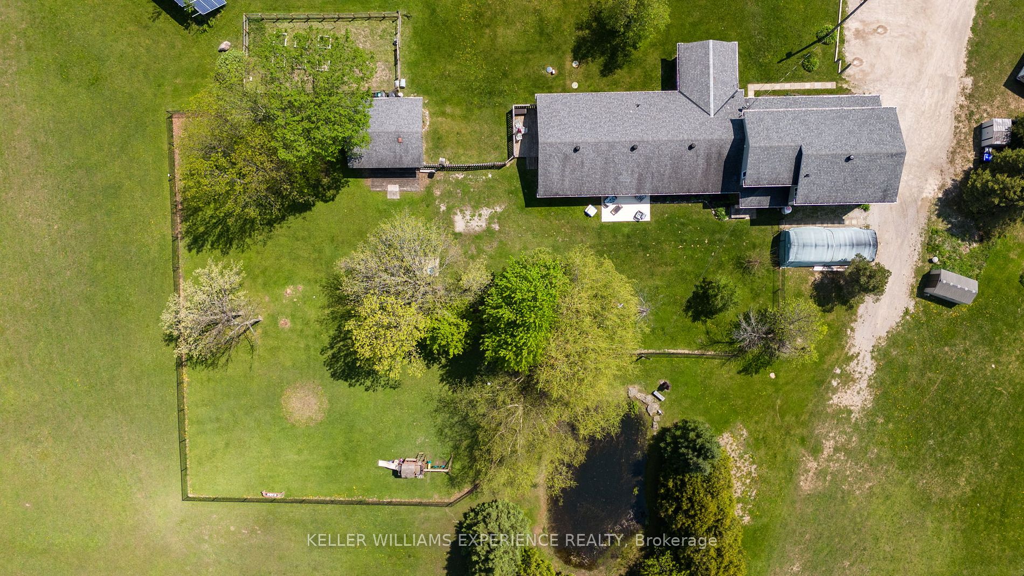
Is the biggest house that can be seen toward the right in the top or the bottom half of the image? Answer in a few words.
top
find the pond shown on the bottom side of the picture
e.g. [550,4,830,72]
[546,413,647,561]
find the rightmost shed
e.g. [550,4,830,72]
[981,118,1016,146]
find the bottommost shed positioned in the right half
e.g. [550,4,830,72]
[921,269,977,304]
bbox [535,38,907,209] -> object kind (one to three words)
house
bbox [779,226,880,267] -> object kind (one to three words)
building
